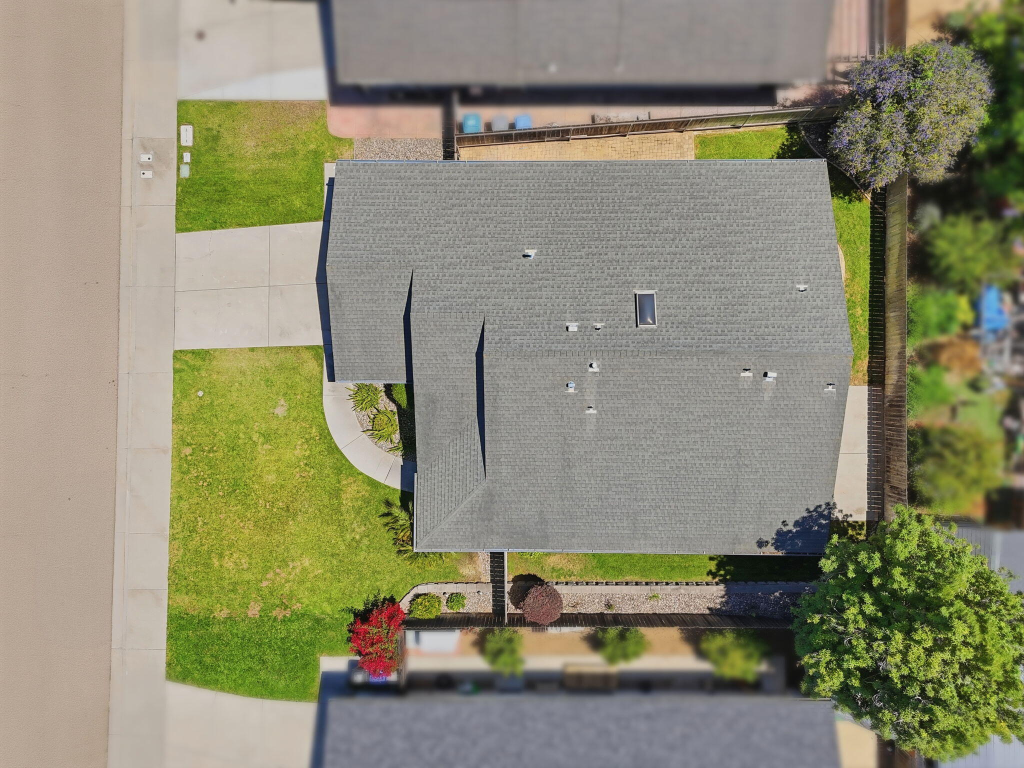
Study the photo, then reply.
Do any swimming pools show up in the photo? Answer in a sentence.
No, I find no swimming pool anywhere in the image.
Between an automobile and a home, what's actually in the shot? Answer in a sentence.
There is a home in the scene.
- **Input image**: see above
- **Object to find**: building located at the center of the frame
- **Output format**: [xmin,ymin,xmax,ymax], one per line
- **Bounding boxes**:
[326,157,853,556]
